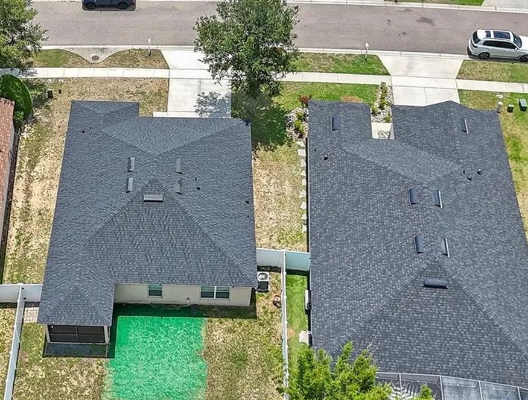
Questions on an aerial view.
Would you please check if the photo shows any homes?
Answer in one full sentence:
Yes, you can see a home in this photo.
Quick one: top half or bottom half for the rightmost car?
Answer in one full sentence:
Seen from above, the rightmost car lies in the top half of the view.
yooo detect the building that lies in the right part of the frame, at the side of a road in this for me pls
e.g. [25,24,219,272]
[309,99,528,400]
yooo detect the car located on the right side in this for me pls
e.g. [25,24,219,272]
[473,32,528,64]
